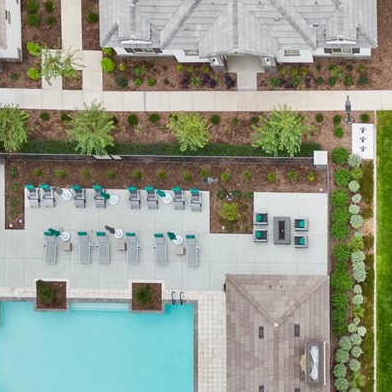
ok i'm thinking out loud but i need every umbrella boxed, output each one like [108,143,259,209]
[50,182,70,200]
[106,224,124,239]
[100,188,118,205]
[157,186,170,203]
[48,226,70,241]
[169,230,183,245]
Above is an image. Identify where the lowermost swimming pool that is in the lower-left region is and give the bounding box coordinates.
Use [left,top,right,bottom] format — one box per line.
[0,291,198,392]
